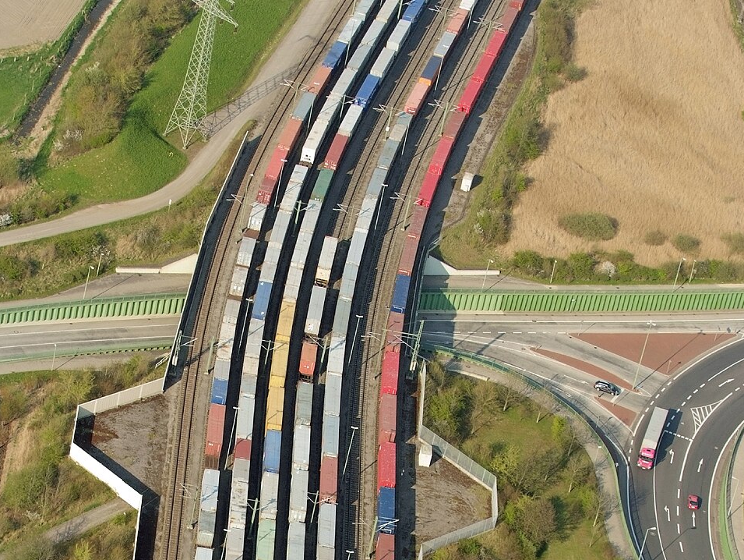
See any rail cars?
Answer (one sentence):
Yes, looking at the shot, I can spot a rail car.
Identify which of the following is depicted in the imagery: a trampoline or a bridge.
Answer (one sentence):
I can see a bridge in this picture.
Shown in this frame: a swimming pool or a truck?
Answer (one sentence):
Visible in the photo is a truck.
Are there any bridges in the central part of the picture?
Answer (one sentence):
Yes, there is a bridge in the central part of the picture.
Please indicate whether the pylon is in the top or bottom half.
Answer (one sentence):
The top half of the photo is where the pylon is.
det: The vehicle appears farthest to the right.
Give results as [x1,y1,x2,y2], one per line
[688,492,700,508]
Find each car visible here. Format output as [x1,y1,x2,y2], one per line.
[688,492,700,508]
[594,380,621,395]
